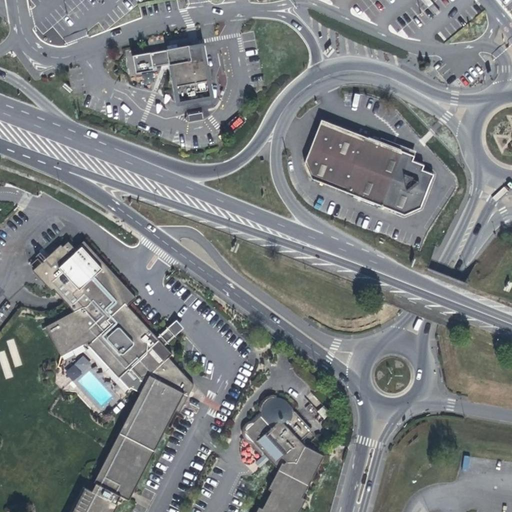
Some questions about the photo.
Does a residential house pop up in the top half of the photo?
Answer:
Yes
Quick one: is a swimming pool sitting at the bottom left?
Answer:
Yes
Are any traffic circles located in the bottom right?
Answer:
Yes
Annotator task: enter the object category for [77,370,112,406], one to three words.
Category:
swimming pool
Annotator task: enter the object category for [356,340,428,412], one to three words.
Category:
roundabout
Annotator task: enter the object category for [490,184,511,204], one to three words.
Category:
vehicle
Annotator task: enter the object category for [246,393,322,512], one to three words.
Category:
building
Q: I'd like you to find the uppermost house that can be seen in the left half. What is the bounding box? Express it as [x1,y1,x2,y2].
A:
[132,43,212,104]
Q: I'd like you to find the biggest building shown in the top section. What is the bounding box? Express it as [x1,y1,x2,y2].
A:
[304,120,438,218]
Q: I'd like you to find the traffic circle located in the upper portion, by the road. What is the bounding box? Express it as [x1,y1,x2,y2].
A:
[460,79,512,191]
